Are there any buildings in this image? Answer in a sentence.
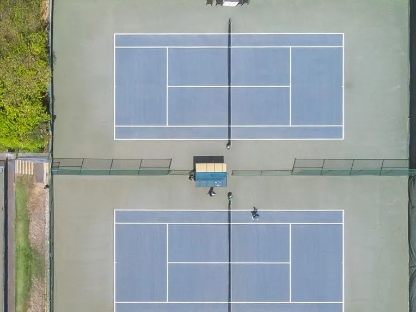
No, no building can be seen from above.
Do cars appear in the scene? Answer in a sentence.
No, there is no car in the image.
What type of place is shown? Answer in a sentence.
The area seen from above is a sports ground.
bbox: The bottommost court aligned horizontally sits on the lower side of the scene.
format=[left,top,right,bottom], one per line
[52,175,409,312]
